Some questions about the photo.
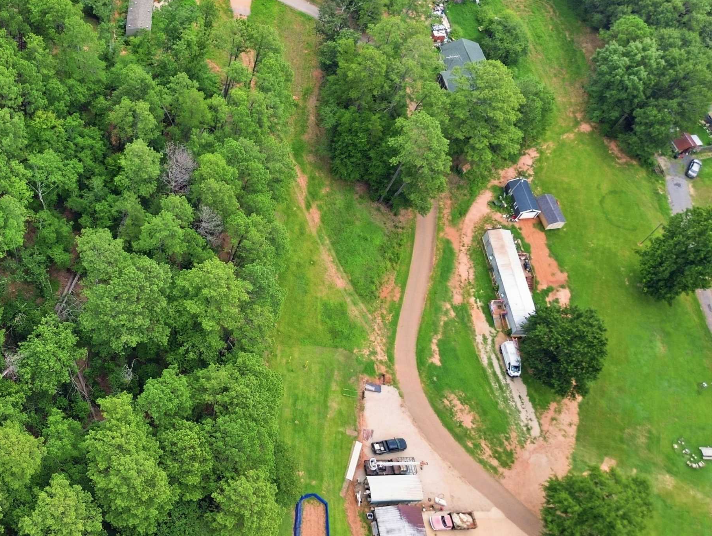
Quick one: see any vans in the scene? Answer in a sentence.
Yes, the image includes a van.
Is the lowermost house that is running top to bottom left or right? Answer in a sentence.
The lowermost house that is running top to bottom appears in the right half of the scene.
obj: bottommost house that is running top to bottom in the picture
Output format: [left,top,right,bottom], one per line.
[477,229,539,338]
